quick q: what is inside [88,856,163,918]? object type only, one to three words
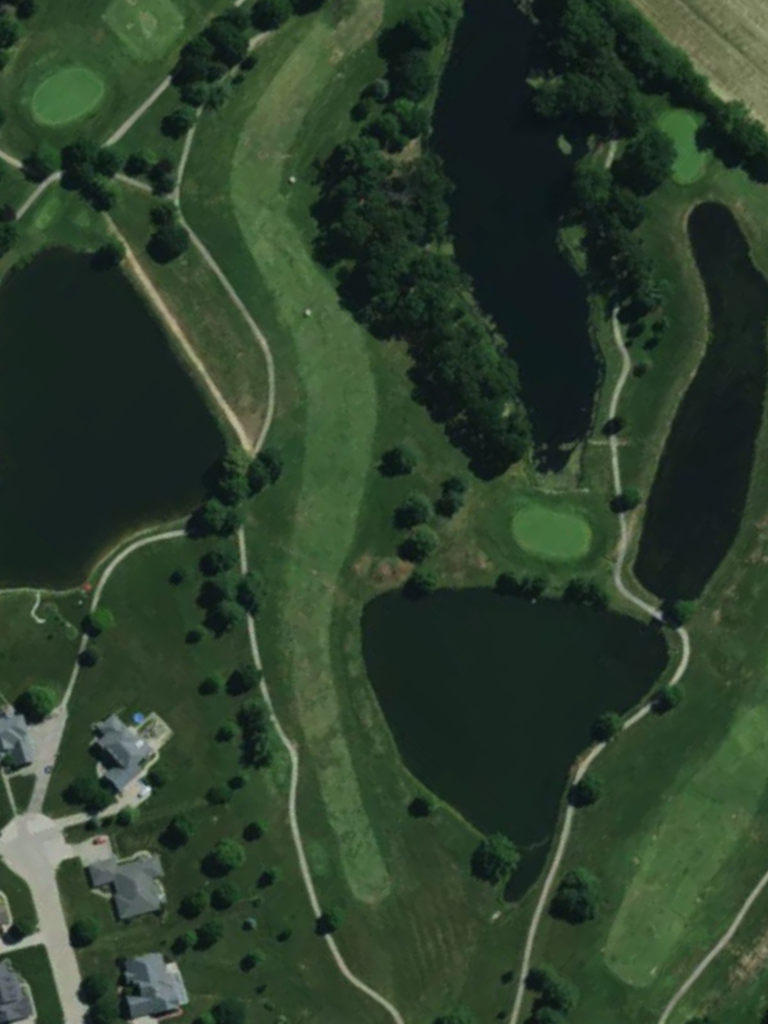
house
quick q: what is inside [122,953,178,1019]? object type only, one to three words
house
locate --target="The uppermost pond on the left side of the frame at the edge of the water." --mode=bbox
[0,248,225,593]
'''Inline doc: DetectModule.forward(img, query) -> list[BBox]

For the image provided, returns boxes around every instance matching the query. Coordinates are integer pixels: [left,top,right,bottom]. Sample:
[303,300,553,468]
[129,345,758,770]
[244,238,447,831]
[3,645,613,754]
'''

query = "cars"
[92,837,106,844]
[139,785,152,797]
